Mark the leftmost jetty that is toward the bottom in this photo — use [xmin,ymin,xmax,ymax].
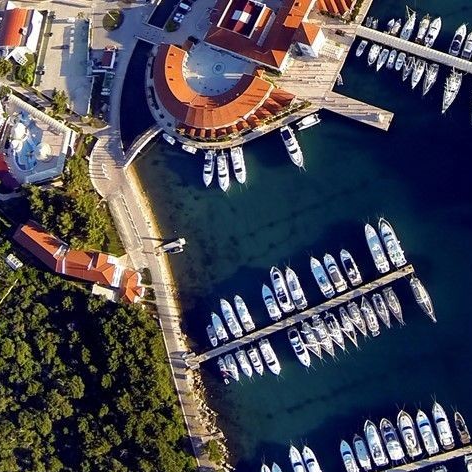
[198,264,414,362]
